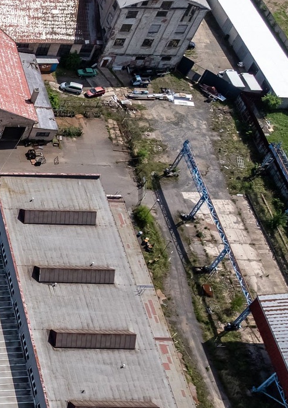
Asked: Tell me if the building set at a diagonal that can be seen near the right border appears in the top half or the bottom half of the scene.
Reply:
top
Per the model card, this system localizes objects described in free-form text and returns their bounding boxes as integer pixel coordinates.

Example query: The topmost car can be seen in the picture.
[186,36,202,51]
